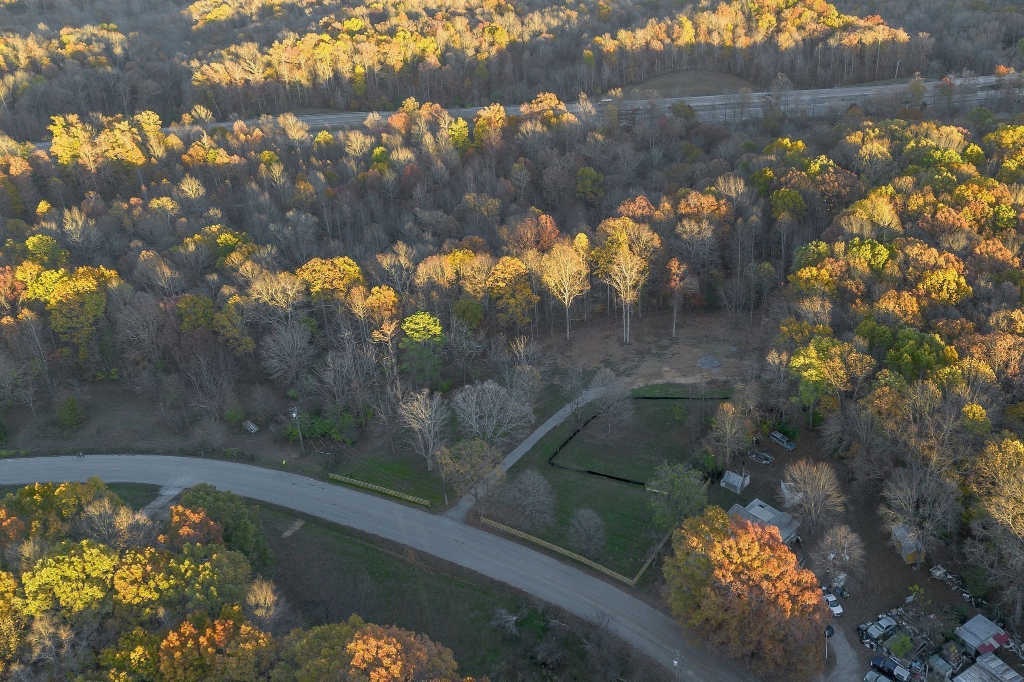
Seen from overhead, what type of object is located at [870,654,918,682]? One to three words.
truck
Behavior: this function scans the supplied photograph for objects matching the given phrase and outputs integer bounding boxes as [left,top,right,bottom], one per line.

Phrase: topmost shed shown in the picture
[720,471,752,496]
